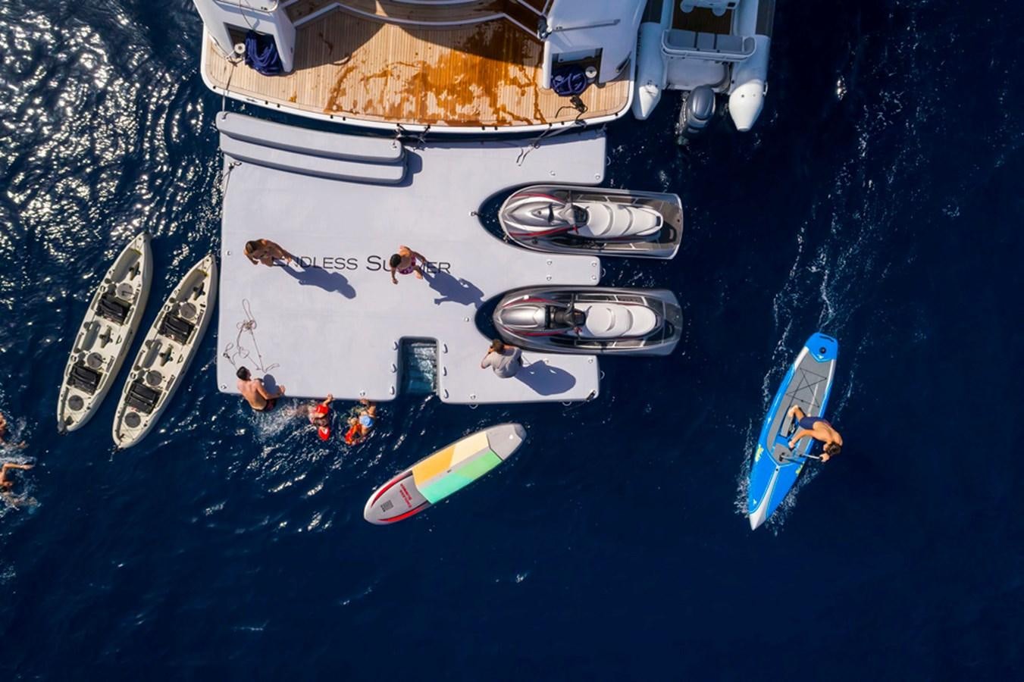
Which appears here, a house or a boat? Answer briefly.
boat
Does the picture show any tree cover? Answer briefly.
No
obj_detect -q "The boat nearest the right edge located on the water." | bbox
[632,0,778,144]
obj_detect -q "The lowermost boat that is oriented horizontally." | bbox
[491,283,685,356]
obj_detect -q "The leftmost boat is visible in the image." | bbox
[51,233,151,440]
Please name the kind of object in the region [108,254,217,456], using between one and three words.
boat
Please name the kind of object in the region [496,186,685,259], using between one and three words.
boat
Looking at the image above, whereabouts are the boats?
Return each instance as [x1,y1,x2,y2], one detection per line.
[632,0,778,144]
[491,283,685,356]
[194,0,646,136]
[51,233,151,440]
[108,254,217,456]
[496,186,685,259]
